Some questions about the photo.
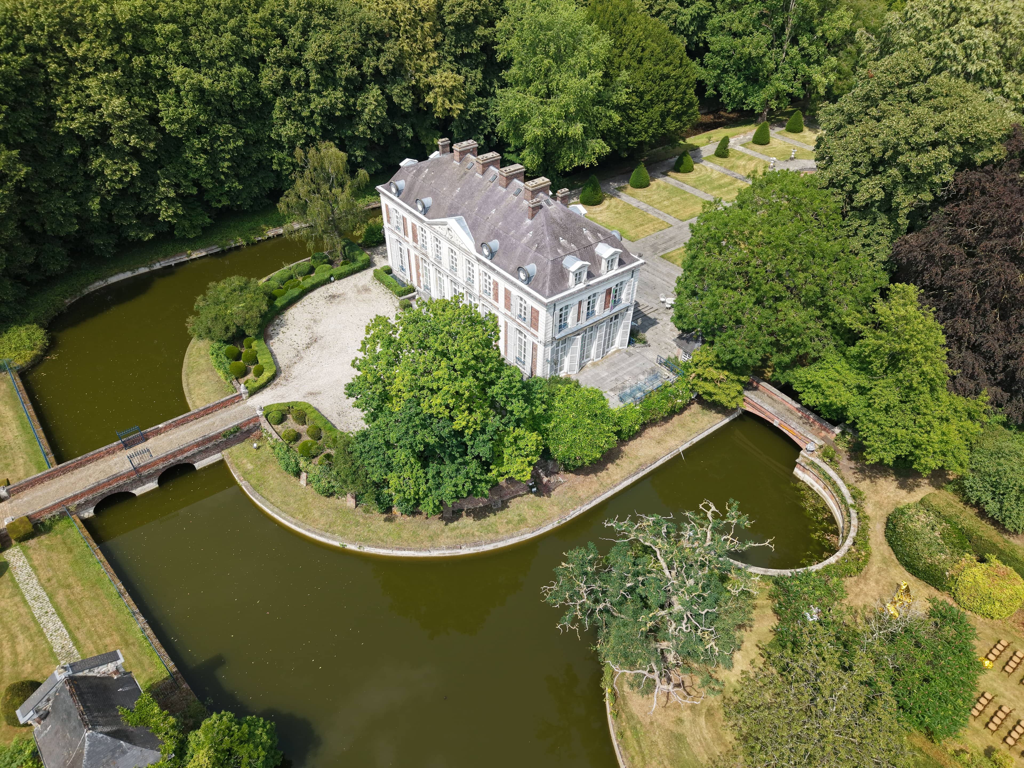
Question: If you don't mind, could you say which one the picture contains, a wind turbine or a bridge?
bridge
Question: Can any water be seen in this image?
Yes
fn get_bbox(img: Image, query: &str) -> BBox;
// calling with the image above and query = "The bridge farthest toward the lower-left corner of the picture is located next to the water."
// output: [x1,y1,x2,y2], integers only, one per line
[2,392,260,524]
